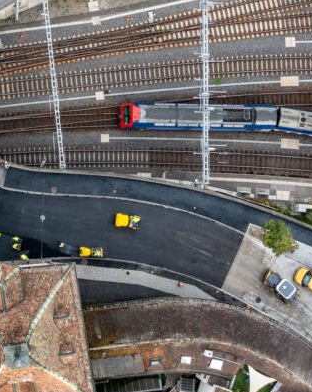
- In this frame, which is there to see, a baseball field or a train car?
train car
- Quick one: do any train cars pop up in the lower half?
No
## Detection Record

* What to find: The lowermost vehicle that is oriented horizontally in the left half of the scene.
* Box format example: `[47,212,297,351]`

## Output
[78,245,103,258]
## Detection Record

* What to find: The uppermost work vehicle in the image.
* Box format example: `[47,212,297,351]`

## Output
[113,214,141,228]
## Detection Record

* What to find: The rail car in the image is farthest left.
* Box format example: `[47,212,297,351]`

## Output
[113,104,273,135]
